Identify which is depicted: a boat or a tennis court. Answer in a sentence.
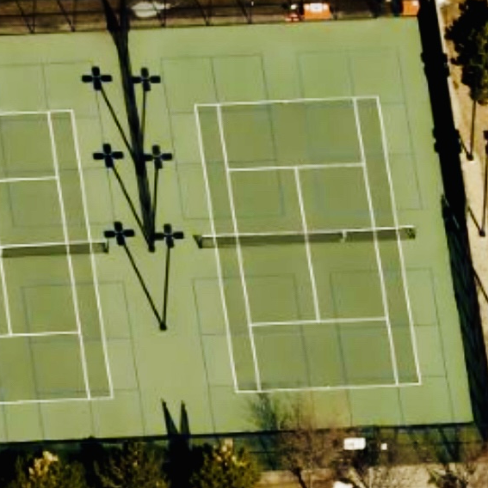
It is a tennis court that can be seen here.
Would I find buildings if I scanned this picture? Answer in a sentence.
No, the frame has no building in it.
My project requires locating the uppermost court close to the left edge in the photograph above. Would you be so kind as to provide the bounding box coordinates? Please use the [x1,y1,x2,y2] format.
[0,60,116,226]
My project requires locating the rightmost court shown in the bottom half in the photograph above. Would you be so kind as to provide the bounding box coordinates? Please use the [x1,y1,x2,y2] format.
[328,268,455,436]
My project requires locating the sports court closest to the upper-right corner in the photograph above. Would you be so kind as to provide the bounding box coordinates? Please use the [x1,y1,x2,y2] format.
[296,47,421,213]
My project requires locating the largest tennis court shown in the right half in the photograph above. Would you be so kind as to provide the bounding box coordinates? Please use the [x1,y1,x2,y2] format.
[195,96,420,392]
